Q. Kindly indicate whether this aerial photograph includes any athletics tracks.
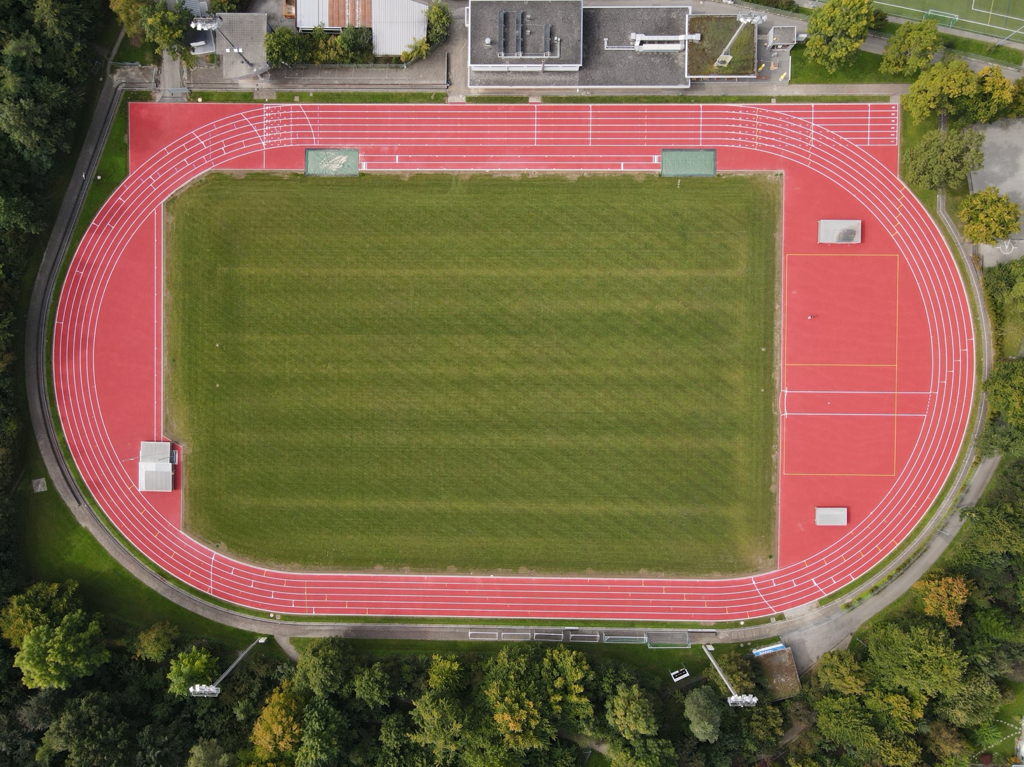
Yes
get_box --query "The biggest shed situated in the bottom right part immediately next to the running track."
[750,641,802,702]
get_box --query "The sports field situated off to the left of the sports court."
[141,170,783,580]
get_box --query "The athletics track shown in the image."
[53,100,976,622]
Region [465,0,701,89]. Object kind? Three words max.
building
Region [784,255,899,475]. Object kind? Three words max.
sports court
